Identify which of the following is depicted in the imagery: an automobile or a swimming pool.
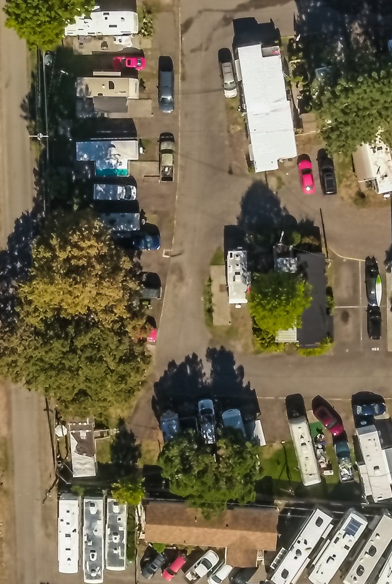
automobile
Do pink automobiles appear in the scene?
Yes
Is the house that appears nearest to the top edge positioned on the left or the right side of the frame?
right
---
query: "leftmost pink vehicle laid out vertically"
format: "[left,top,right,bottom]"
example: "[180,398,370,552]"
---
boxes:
[296,160,314,195]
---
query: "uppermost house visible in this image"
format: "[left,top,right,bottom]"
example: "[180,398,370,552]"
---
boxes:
[235,44,296,172]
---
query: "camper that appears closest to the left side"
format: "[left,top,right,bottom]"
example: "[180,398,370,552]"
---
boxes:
[59,486,82,573]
